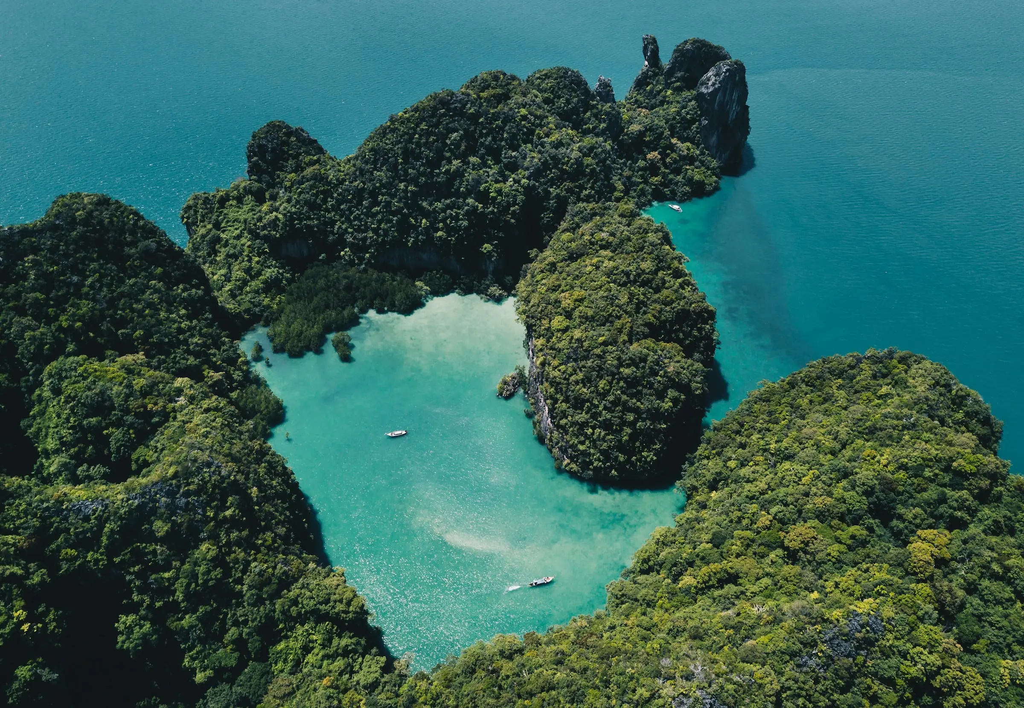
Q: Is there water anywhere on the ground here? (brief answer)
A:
Yes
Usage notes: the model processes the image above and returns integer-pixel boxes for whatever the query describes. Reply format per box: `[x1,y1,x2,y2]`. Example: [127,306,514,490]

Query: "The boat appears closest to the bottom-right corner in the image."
[526,573,555,588]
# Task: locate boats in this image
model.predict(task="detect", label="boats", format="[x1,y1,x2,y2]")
[526,573,555,588]
[670,204,683,212]
[383,429,407,436]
